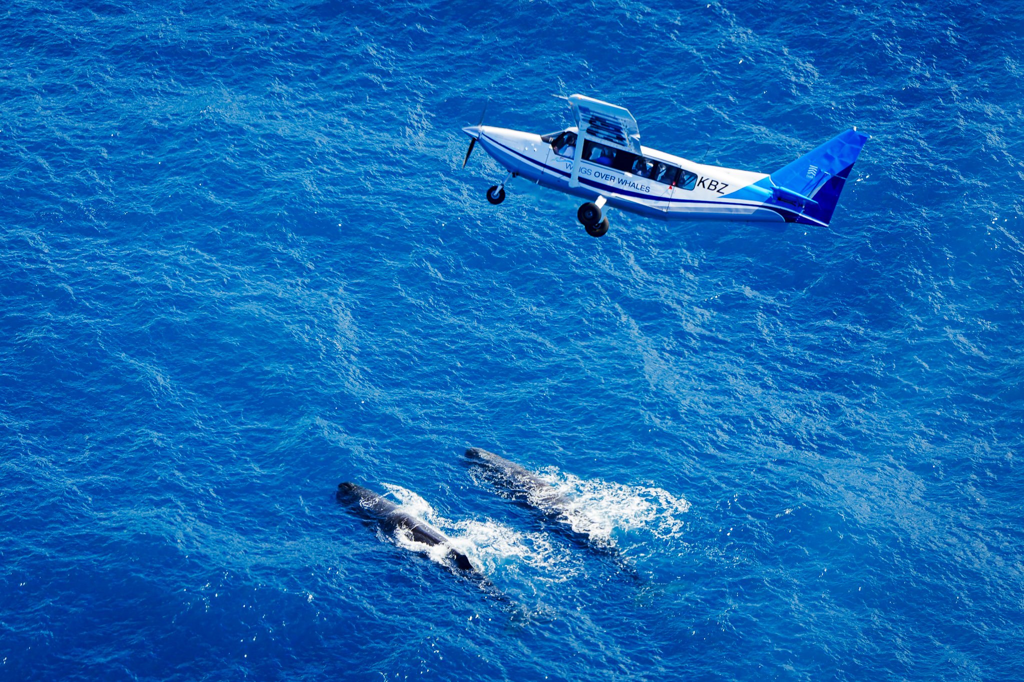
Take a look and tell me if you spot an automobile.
No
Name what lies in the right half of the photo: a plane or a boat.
plane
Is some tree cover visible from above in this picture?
No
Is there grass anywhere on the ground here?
No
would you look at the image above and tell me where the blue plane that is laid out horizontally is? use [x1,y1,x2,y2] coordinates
[464,94,869,239]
